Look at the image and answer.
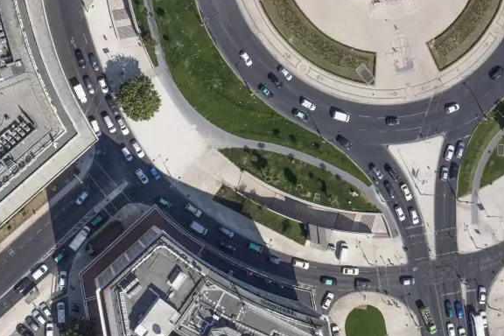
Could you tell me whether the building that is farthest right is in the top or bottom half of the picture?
bottom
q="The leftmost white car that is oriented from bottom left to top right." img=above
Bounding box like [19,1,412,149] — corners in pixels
[32,264,47,279]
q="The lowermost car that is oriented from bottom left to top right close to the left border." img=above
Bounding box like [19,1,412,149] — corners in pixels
[16,279,31,294]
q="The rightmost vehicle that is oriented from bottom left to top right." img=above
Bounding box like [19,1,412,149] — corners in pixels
[488,67,503,79]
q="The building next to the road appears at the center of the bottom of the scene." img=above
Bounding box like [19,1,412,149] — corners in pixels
[79,205,330,336]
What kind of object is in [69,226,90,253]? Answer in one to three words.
truck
